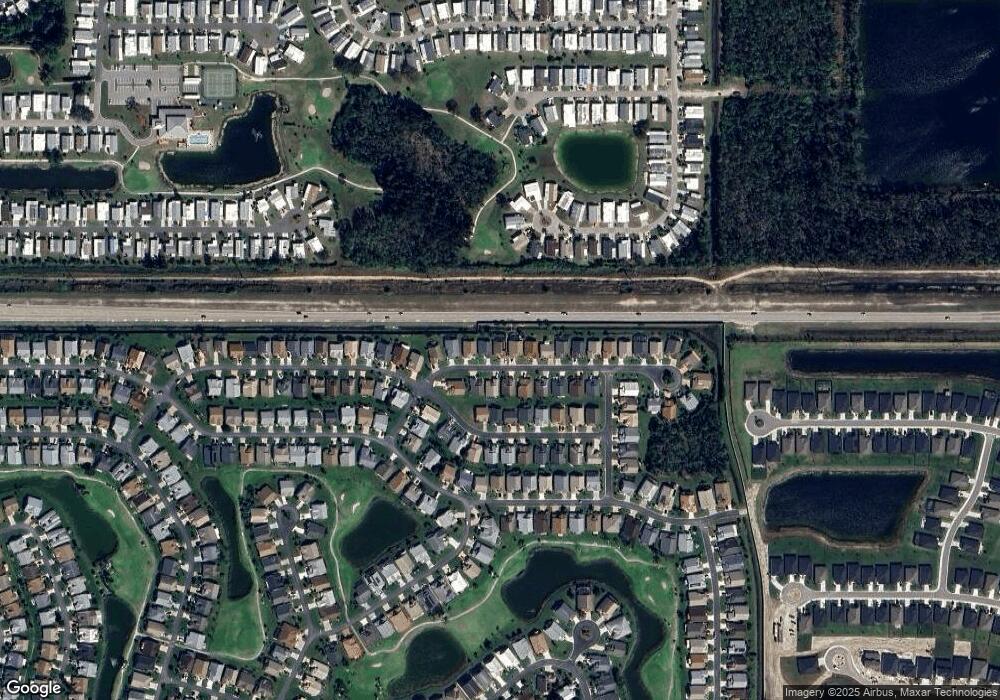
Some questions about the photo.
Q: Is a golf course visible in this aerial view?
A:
Yes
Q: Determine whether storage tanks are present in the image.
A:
No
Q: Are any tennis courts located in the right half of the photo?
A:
No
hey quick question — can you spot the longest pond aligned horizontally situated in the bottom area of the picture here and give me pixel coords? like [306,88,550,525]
[764,471,927,542]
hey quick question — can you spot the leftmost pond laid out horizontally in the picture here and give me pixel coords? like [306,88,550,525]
[0,163,118,192]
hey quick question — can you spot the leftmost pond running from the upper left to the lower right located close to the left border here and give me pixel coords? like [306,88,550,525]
[0,474,118,560]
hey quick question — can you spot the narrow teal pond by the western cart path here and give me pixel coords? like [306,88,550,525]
[94,594,138,700]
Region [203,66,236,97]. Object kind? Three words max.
tennis court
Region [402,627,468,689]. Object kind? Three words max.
pond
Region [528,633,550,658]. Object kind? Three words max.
house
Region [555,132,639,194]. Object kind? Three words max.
pond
